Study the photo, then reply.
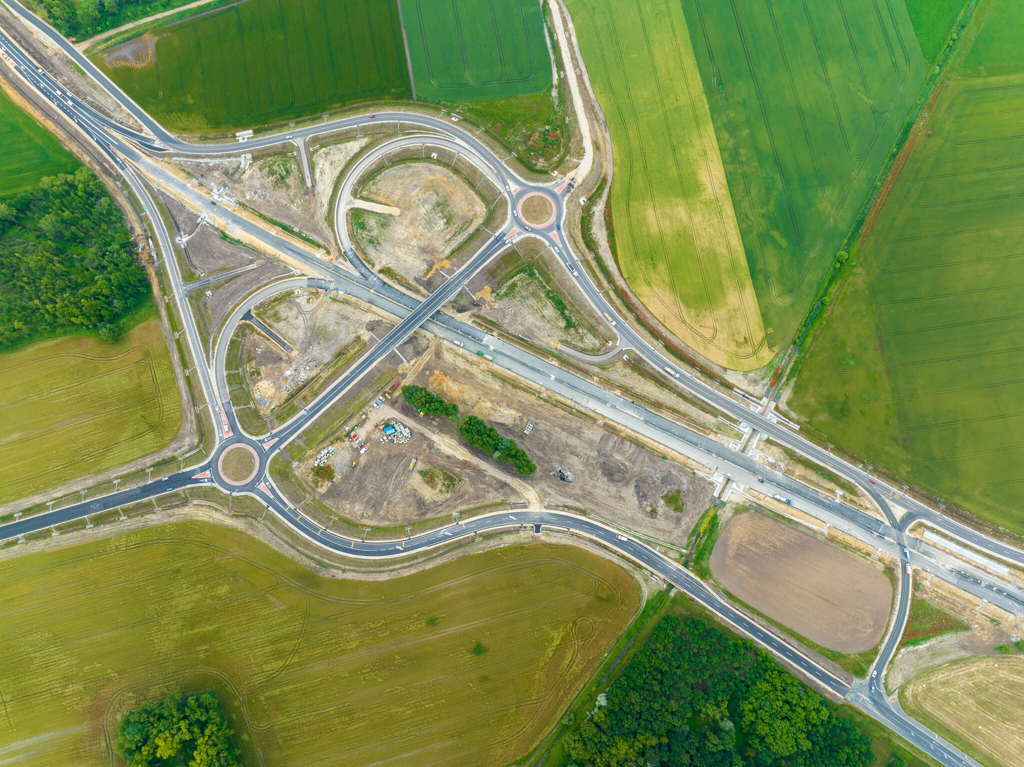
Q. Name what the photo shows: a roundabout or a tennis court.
roundabout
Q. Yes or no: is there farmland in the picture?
Yes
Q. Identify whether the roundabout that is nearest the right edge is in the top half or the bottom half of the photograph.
top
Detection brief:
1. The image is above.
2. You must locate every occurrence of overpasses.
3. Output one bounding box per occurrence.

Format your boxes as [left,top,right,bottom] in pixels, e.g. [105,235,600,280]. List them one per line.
[383,278,457,354]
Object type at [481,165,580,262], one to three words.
roundabout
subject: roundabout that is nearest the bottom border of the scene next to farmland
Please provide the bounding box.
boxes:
[181,393,305,510]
